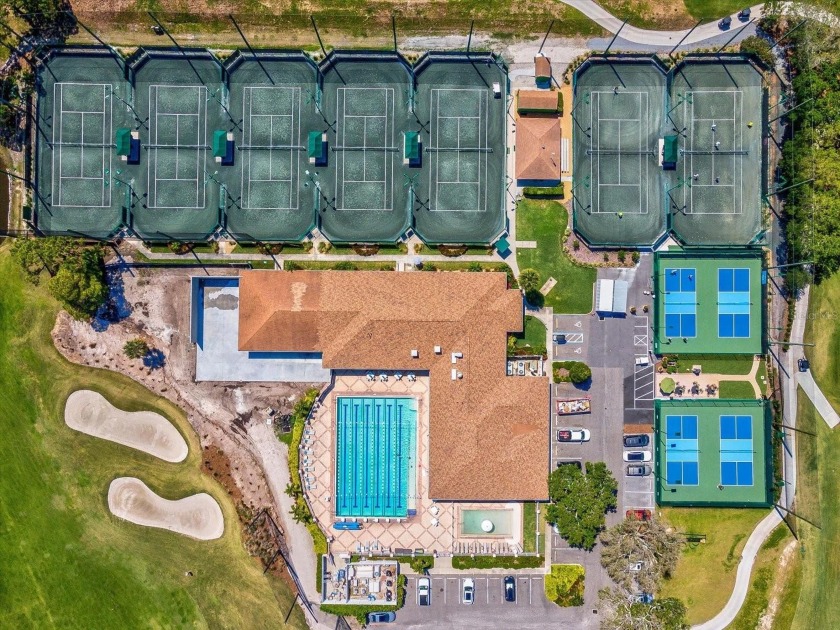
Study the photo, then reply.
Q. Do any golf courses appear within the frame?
Yes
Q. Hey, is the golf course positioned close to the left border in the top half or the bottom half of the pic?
bottom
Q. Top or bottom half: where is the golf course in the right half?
bottom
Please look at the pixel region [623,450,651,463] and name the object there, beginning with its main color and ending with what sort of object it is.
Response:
white vehicle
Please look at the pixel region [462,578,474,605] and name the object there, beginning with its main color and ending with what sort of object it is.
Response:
white vehicle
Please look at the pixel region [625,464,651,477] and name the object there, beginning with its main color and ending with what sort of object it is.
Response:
gray vehicle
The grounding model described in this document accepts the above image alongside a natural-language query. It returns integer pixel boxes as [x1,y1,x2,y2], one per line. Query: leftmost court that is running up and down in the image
[43,52,134,238]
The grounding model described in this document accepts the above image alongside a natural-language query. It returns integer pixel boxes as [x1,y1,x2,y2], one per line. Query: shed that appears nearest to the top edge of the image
[533,54,551,81]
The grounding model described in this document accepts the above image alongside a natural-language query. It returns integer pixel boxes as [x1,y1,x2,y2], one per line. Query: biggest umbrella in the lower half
[658,376,675,393]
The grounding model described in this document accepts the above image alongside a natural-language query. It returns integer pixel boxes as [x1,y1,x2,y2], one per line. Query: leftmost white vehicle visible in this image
[418,576,431,606]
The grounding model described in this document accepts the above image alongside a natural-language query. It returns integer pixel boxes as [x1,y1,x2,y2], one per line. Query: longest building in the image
[238,271,548,500]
